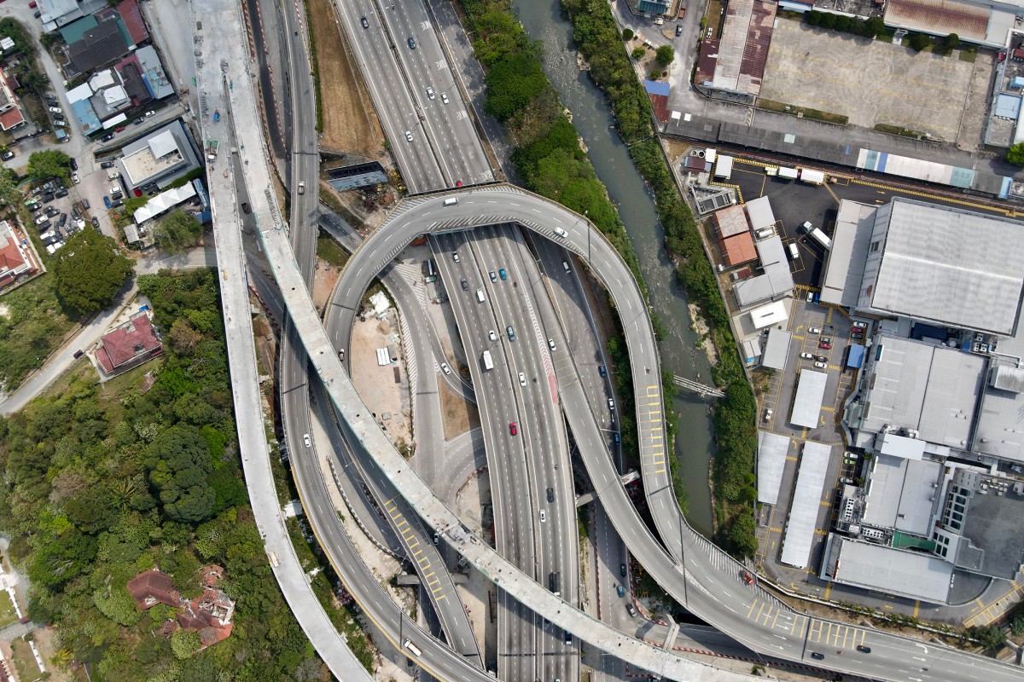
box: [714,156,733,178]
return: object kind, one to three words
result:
building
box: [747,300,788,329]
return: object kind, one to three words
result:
shed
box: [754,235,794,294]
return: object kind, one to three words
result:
building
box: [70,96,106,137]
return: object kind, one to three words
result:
house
